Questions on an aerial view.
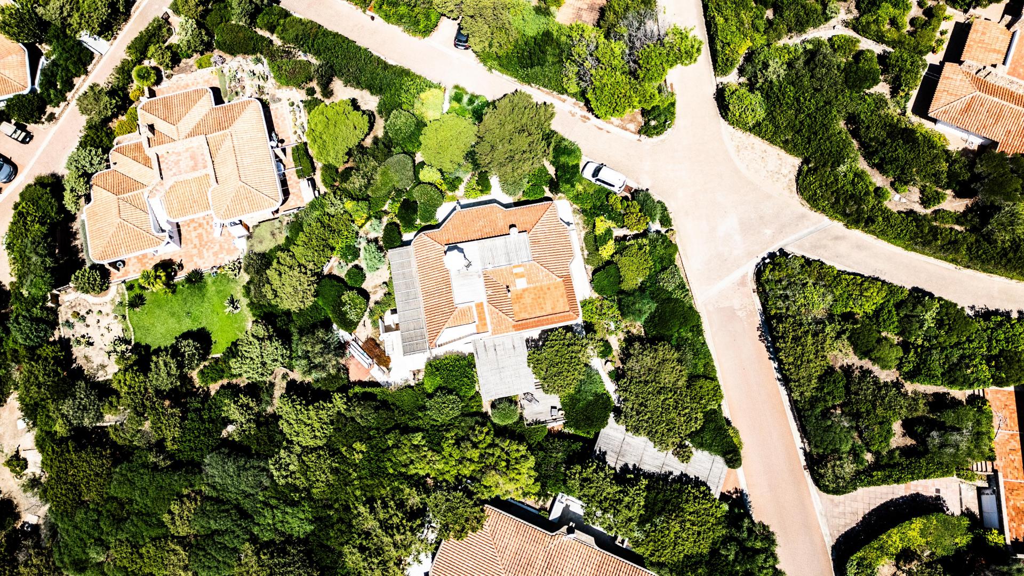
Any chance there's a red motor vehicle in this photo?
No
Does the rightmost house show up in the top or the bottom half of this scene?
top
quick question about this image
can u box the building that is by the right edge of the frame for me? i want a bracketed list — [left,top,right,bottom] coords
[916,0,1024,157]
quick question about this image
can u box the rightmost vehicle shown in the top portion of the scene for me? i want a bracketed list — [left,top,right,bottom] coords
[581,160,629,194]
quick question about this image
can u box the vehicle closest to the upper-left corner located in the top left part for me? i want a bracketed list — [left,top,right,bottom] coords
[0,117,34,149]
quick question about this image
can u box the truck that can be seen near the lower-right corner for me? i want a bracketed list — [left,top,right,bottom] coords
[979,487,1009,527]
